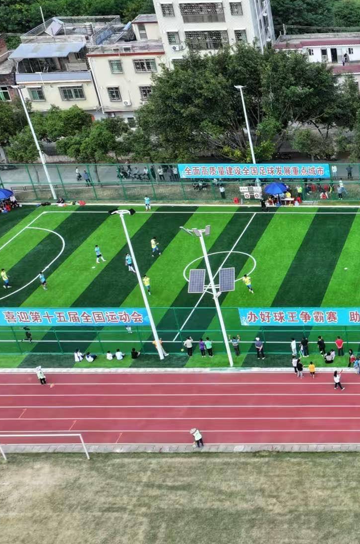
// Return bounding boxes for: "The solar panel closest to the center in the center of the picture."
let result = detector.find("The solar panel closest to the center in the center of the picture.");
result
[188,270,207,295]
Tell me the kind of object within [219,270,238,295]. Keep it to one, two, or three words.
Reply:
solar panel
